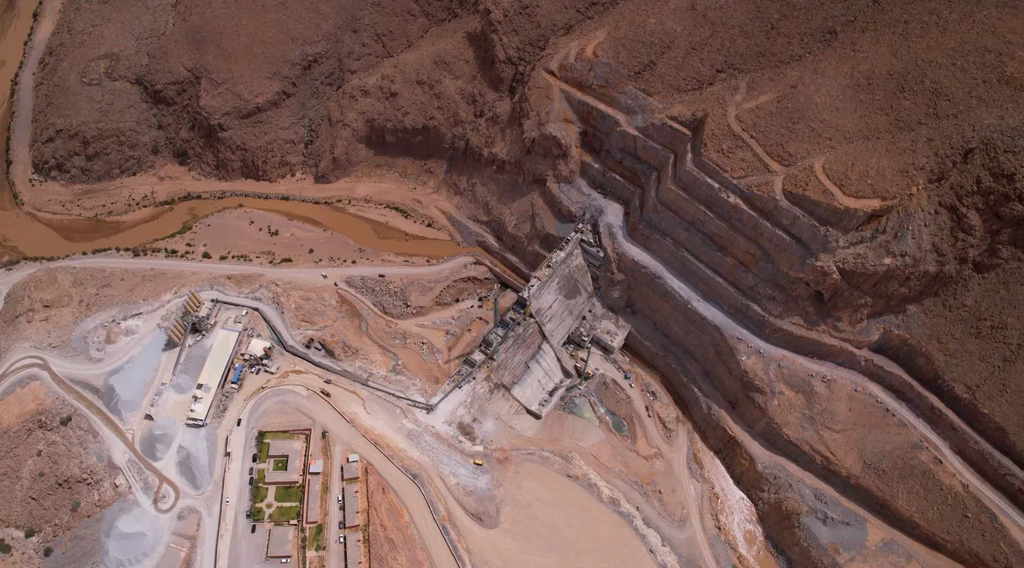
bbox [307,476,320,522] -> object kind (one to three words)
house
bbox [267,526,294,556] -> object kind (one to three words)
house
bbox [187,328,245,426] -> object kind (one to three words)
shed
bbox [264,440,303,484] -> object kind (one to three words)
building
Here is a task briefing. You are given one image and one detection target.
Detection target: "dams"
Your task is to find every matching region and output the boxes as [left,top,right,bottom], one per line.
[429,223,605,419]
